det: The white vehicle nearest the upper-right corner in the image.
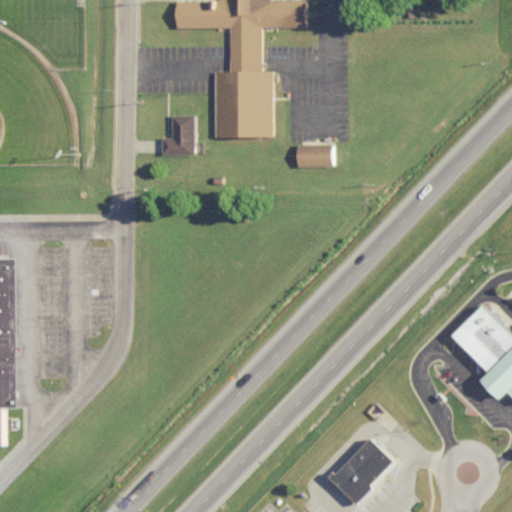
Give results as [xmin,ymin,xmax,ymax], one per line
[418,184,434,200]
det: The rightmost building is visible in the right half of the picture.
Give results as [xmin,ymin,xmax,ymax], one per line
[451,304,512,401]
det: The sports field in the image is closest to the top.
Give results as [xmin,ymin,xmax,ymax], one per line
[0,0,86,72]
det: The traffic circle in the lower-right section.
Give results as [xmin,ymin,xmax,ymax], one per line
[434,441,500,512]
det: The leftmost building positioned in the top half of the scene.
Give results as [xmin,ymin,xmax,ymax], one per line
[162,117,204,154]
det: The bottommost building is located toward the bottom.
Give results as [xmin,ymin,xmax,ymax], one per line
[328,440,396,503]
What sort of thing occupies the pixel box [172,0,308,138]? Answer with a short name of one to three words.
church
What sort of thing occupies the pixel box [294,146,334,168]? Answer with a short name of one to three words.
shed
